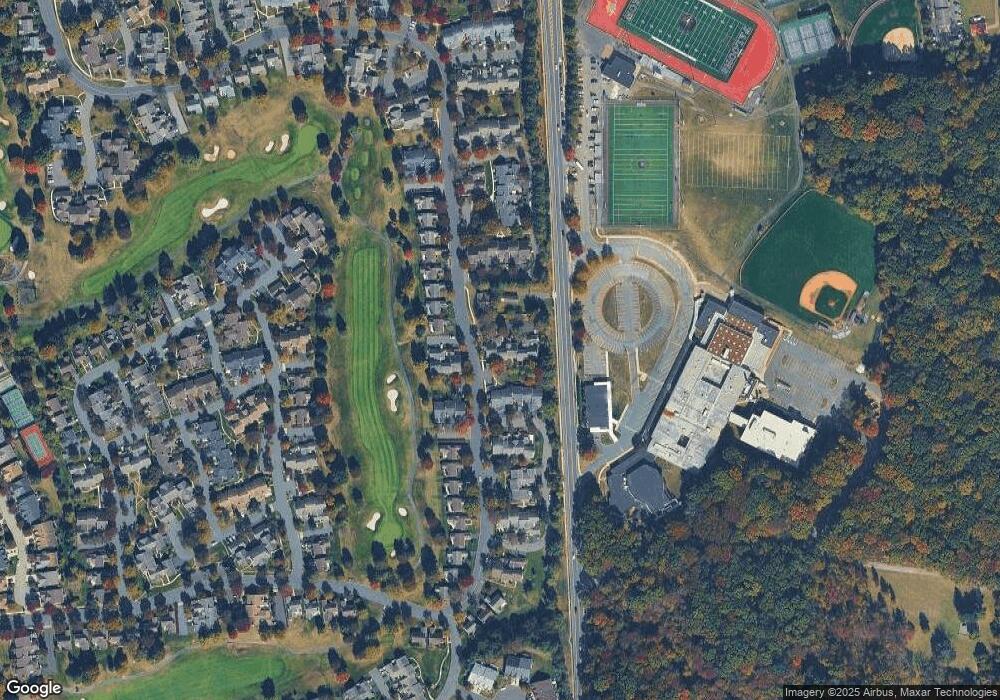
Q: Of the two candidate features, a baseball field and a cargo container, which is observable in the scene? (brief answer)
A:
baseball field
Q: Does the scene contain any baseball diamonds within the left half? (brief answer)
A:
No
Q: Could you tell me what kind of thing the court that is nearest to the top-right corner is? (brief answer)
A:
tennis court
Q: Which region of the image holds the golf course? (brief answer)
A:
left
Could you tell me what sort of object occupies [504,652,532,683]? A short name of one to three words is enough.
building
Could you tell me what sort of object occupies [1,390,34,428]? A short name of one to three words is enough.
tennis court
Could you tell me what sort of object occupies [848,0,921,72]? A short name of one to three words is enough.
baseball field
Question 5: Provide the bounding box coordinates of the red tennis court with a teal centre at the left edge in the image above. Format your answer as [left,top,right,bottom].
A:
[21,426,54,468]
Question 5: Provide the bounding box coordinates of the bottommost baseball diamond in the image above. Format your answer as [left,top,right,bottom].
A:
[737,190,876,330]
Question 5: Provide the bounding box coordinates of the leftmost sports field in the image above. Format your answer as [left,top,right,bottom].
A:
[603,99,679,229]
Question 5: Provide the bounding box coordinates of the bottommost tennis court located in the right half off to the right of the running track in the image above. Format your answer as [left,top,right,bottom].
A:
[780,12,842,62]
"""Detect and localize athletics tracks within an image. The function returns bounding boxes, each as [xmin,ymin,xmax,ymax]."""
[584,0,775,107]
